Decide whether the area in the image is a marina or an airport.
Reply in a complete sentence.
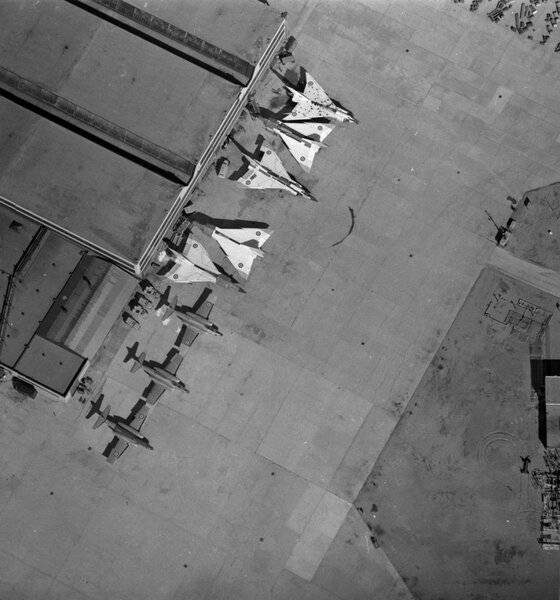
The area seen from above is an airport.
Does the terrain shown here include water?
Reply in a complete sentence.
No, the picture contains no water.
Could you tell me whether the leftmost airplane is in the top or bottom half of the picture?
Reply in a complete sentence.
It is in the bottom half that the leftmost airplane appears.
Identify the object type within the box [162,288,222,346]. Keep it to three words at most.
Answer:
airplane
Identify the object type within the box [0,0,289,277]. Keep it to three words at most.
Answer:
hangar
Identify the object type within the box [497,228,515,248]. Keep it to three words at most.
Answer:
vehicle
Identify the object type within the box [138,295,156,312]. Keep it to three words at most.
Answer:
car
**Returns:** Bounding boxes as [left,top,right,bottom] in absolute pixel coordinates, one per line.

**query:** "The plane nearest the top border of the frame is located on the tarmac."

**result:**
[284,72,362,128]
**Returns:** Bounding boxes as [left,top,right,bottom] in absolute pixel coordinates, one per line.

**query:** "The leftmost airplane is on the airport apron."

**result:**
[92,403,152,463]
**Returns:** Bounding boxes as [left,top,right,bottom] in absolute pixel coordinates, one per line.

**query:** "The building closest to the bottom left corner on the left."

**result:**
[15,335,91,398]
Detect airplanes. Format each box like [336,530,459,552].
[92,403,152,463]
[186,214,273,279]
[167,237,250,296]
[240,145,322,206]
[284,72,362,128]
[128,345,188,404]
[162,288,222,346]
[253,111,334,173]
